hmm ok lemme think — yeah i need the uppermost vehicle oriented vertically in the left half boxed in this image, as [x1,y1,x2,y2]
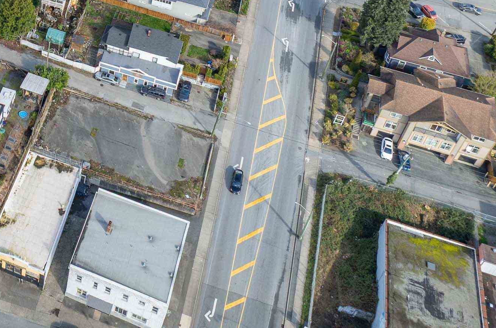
[180,77,193,106]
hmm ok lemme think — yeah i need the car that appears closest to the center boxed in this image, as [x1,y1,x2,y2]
[230,169,244,198]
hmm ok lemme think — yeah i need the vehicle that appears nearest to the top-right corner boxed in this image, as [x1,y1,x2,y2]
[455,2,484,19]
